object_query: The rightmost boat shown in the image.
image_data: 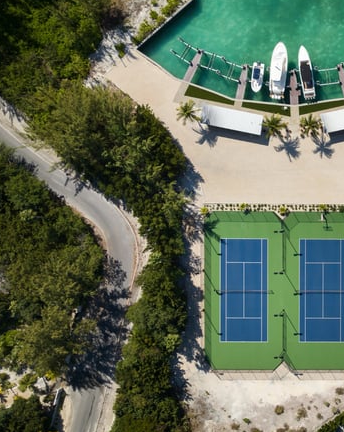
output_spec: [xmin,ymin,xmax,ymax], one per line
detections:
[298,44,316,99]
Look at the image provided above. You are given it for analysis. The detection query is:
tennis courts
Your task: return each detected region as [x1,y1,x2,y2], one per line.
[204,212,284,370]
[284,212,344,370]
